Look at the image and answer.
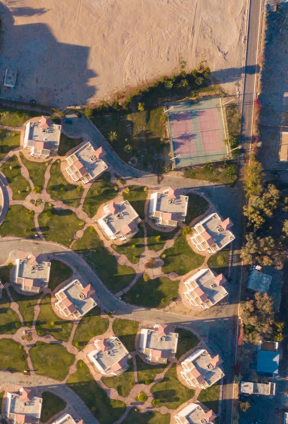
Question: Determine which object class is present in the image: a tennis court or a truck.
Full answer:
Looking from above, you can make out a tennis court.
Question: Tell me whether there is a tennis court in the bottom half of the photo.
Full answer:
No, I can find no tennis court in the bottom half of the photo.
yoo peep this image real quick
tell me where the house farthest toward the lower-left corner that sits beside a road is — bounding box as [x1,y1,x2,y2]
[4,390,43,424]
